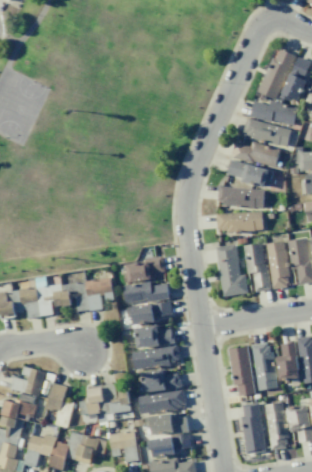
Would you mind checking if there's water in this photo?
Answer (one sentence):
No, the scene doesn't show any water.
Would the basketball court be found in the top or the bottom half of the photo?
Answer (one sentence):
The basketball court sits in the top half of the picture.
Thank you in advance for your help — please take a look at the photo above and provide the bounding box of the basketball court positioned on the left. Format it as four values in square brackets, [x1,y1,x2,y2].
[0,67,50,147]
